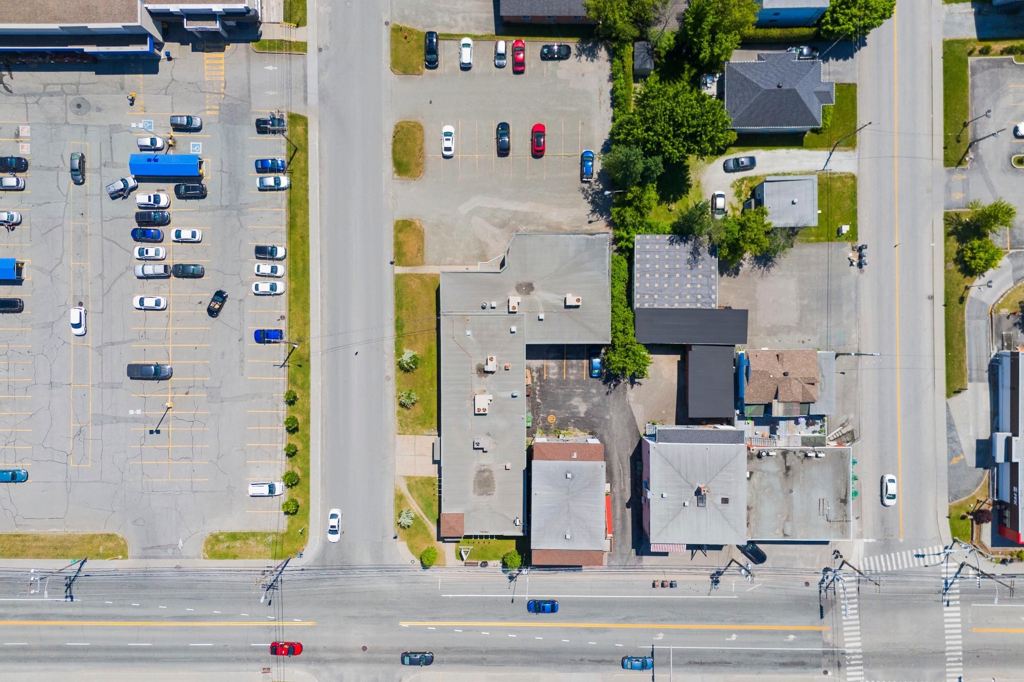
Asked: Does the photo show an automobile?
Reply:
Yes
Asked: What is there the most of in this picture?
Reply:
paved ground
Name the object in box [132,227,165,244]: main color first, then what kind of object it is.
blue car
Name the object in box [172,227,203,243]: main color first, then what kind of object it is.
white car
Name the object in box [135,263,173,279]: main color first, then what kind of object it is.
white vehicle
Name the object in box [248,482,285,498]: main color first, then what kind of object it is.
white car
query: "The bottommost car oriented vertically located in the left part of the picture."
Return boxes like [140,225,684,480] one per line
[326,508,342,542]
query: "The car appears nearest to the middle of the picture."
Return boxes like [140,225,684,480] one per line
[589,348,604,378]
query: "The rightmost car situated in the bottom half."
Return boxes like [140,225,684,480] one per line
[879,474,898,506]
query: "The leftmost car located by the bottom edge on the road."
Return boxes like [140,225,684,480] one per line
[270,639,304,658]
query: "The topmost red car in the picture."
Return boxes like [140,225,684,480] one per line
[511,40,527,75]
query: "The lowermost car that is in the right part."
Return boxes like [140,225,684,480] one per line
[621,654,653,672]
